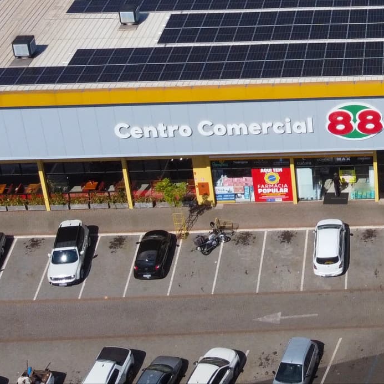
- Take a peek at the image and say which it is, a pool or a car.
car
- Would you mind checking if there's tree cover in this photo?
No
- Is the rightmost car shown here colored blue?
No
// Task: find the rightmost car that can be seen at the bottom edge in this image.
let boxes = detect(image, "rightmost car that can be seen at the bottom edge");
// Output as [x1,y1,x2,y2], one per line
[268,335,322,384]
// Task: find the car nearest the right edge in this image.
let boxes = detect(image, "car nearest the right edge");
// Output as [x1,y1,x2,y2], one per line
[312,221,349,275]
